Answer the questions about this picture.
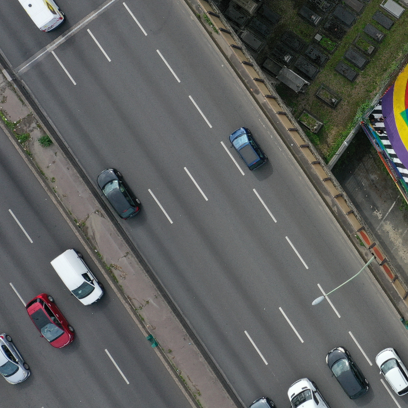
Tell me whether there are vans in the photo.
Yes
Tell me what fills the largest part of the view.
paved ground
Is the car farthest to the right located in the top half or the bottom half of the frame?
bottom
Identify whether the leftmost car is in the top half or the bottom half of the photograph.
bottom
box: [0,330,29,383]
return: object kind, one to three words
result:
car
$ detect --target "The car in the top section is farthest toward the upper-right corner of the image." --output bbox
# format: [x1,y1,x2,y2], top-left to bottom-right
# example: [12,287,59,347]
[228,123,269,173]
